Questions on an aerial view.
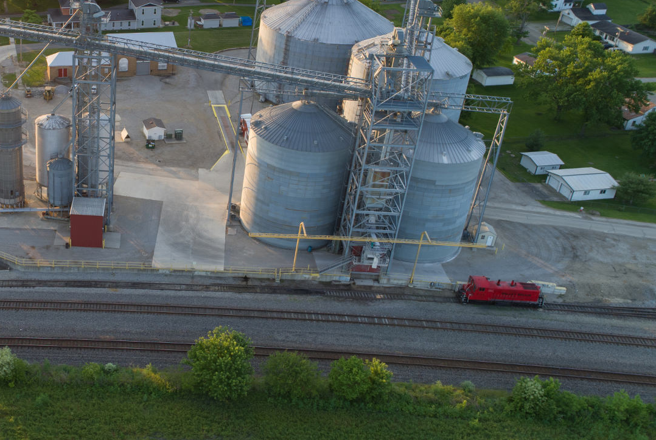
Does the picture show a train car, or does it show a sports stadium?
train car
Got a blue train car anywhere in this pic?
No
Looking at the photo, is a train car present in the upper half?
No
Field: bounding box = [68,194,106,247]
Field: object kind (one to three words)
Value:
shed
